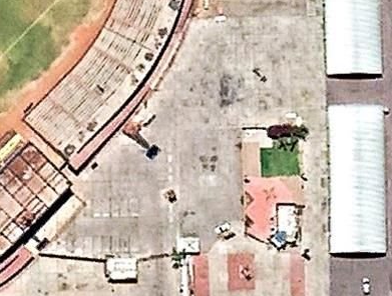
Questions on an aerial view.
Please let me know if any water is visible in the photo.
No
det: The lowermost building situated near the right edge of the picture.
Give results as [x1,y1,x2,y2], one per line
[327,104,386,253]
